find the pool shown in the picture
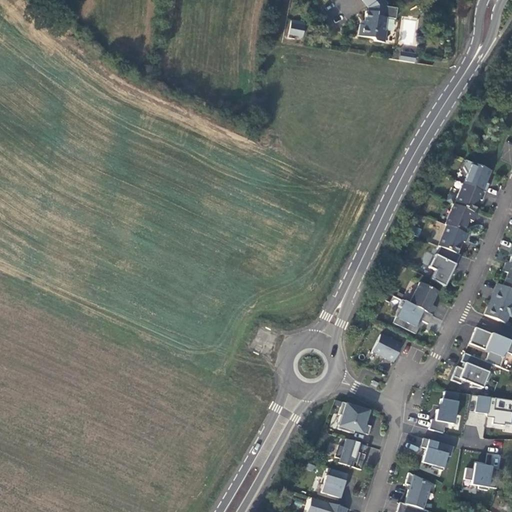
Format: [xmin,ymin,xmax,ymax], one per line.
[400,17,419,46]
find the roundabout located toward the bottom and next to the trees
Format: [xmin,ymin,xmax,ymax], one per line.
[270,300,352,420]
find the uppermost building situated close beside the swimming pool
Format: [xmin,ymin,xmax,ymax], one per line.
[356,0,398,45]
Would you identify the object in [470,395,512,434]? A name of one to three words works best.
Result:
house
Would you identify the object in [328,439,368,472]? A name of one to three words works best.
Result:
house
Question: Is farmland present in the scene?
Yes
